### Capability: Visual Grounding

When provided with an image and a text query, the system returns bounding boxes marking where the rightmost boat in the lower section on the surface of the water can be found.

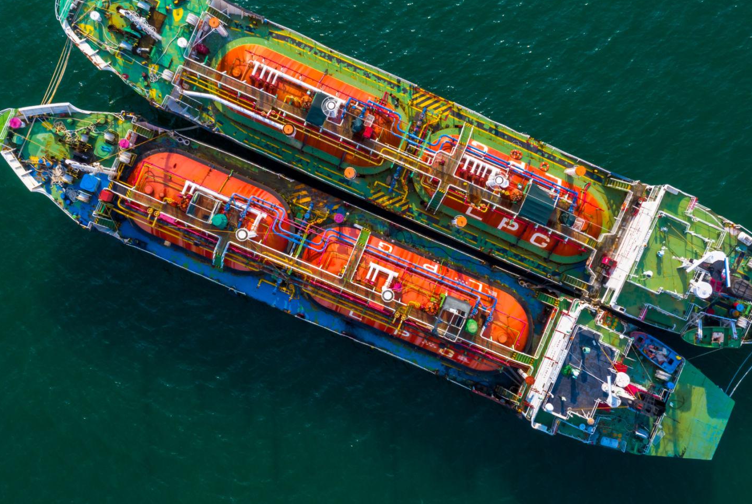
[682,327,743,349]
